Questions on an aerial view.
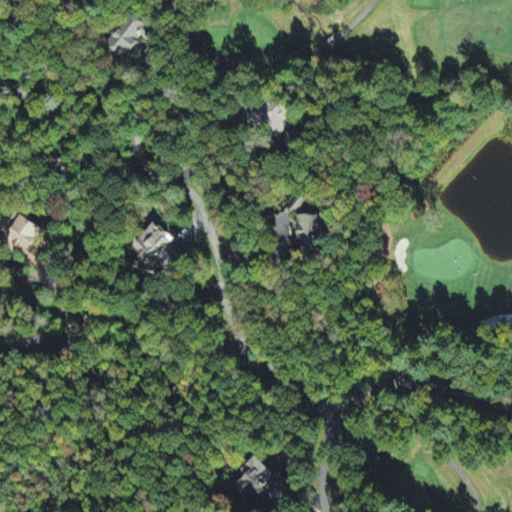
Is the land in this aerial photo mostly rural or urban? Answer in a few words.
rural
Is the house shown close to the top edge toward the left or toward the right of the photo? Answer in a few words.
left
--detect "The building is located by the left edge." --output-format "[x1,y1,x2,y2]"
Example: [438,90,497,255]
[8,214,38,252]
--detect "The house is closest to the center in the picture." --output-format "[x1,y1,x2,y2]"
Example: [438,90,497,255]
[292,214,316,236]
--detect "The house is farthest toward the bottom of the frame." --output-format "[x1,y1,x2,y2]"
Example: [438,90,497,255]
[235,456,268,494]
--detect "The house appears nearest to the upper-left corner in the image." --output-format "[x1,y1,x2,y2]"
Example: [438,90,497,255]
[106,17,149,52]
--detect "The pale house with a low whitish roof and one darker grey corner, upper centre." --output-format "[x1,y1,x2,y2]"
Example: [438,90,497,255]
[266,104,286,132]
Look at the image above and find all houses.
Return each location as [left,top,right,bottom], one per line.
[8,214,38,252]
[292,214,316,236]
[266,104,286,132]
[129,221,174,262]
[235,456,268,494]
[106,17,149,52]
